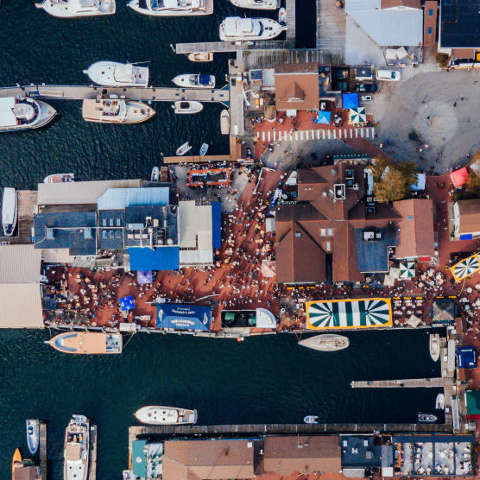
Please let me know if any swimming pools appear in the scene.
No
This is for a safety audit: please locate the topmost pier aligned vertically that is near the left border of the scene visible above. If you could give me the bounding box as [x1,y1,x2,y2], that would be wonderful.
[18,190,34,233]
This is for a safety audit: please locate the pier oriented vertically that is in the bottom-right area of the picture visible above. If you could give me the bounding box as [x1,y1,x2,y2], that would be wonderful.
[440,331,456,434]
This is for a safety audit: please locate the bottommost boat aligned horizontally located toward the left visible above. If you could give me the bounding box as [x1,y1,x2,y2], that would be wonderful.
[133,404,202,423]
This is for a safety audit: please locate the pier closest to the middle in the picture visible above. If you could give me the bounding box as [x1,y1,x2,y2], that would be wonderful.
[164,136,244,165]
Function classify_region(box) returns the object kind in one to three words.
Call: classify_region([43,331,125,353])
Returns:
boat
